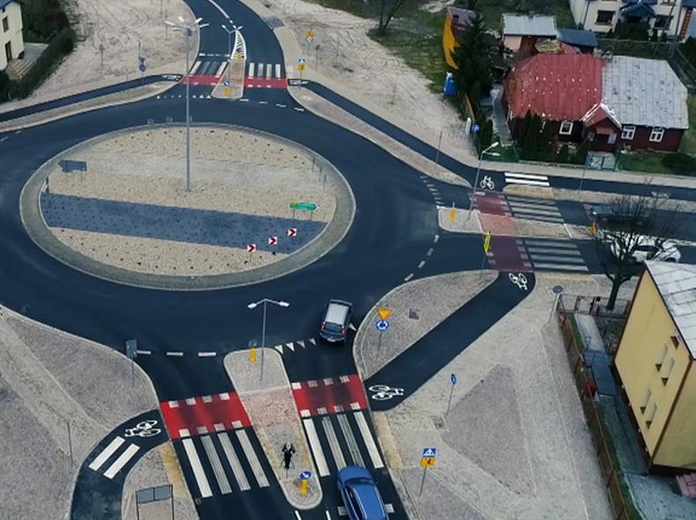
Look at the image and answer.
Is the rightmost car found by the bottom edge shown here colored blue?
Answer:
Yes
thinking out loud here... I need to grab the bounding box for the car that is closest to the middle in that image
[321,296,359,342]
